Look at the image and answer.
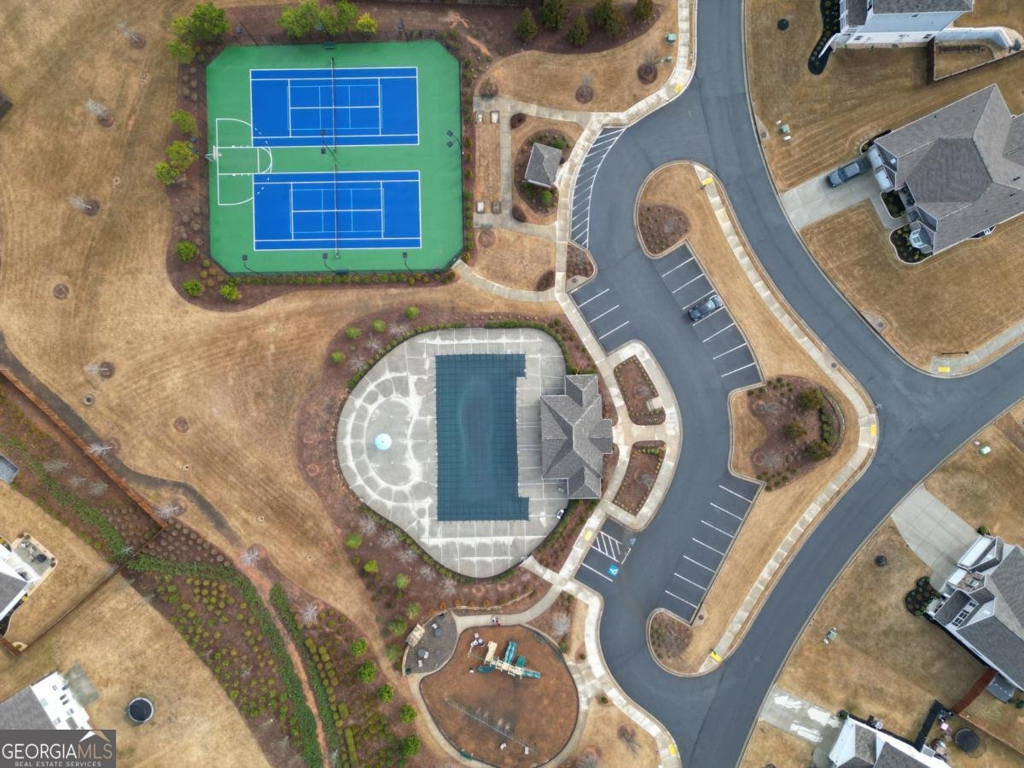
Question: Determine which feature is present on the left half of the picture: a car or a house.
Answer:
house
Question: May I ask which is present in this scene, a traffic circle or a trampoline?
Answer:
trampoline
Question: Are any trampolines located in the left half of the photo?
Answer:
Yes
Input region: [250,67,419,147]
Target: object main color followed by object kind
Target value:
blue tennis court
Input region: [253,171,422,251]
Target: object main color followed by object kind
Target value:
blue tennis court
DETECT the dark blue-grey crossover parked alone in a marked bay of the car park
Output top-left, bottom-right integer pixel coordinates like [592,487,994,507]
[687,295,722,323]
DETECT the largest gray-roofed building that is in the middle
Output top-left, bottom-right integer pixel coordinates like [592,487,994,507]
[540,375,614,498]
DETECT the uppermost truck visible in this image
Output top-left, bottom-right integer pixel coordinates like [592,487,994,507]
[822,157,871,191]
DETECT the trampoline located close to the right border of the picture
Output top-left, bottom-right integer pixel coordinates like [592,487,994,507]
[952,726,979,752]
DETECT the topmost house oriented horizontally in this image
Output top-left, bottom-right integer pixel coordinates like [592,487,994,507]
[818,0,974,63]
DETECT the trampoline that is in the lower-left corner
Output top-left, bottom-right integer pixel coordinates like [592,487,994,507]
[128,697,155,723]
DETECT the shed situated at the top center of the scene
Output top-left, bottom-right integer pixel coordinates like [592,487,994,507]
[524,142,562,189]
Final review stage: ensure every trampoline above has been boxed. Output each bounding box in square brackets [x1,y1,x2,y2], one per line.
[128,697,155,723]
[952,726,979,752]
